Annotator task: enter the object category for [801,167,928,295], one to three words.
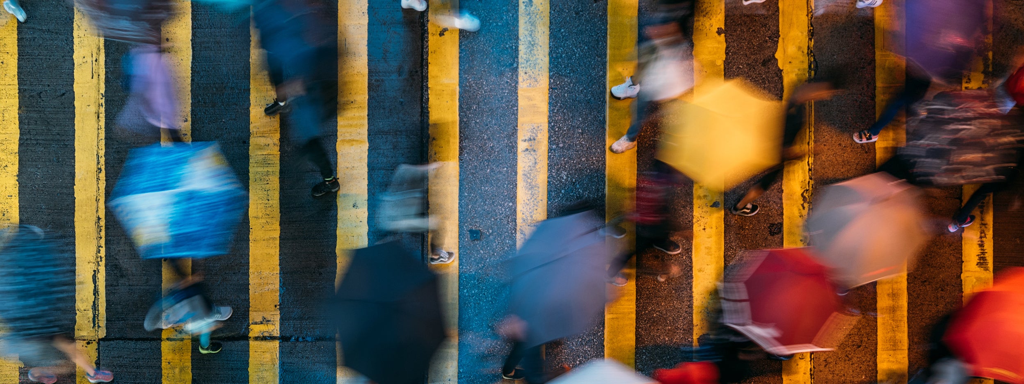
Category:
umbrella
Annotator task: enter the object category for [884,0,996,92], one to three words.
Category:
umbrella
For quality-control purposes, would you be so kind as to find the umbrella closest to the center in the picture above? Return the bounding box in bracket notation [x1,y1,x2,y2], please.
[490,205,610,350]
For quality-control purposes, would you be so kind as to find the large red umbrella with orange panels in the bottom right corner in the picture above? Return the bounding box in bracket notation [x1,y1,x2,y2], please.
[936,263,1024,384]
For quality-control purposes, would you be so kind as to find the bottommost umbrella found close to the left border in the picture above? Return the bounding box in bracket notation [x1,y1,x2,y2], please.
[0,210,88,354]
